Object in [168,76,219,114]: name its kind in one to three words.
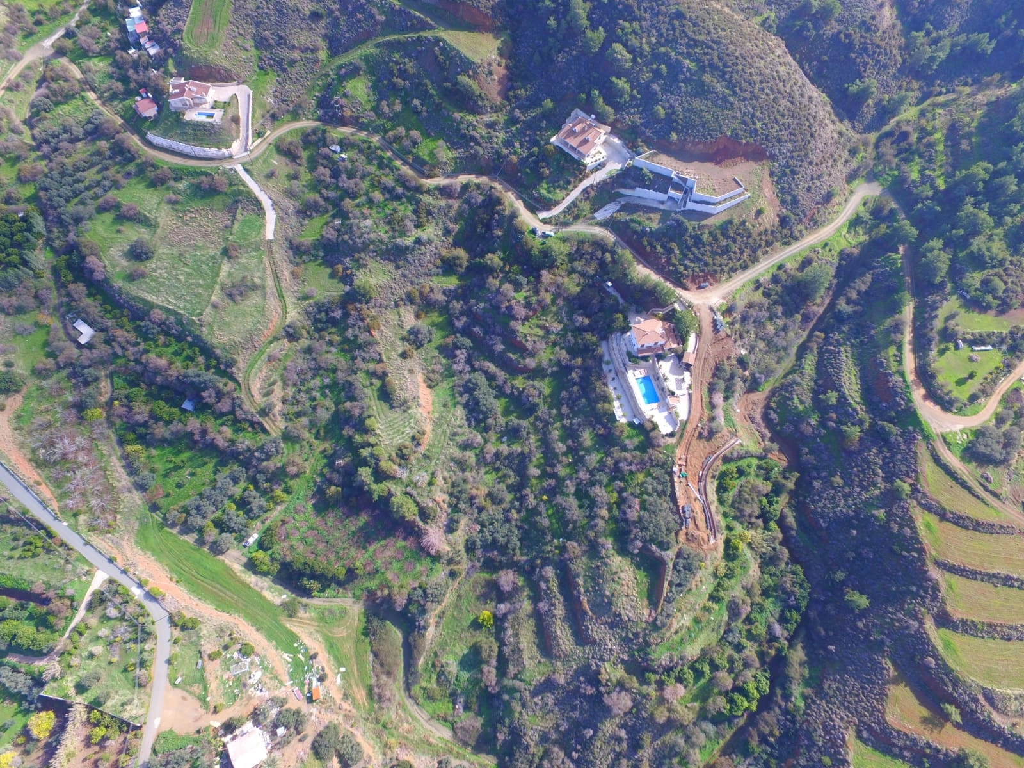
house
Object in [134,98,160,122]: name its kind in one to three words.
house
